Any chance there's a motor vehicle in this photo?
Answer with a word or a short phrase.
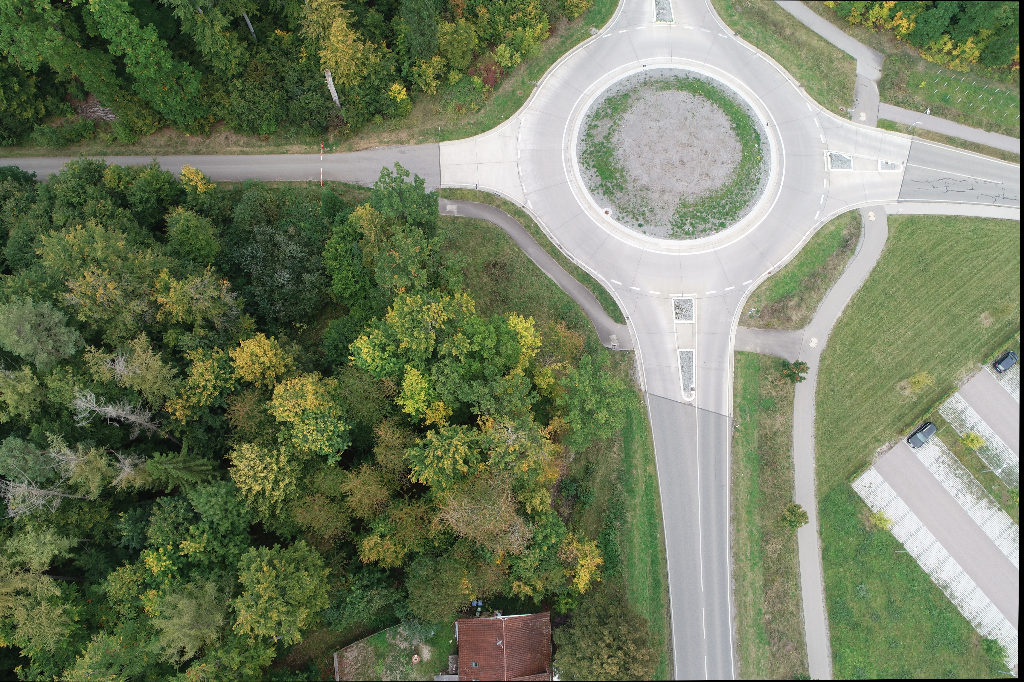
Yes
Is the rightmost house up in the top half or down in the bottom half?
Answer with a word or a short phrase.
bottom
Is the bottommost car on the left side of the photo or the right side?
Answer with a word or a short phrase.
right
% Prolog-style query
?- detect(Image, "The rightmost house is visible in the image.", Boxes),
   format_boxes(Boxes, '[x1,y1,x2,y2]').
[455,611,554,682]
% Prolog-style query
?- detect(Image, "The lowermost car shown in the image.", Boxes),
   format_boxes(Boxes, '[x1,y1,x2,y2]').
[907,422,938,448]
